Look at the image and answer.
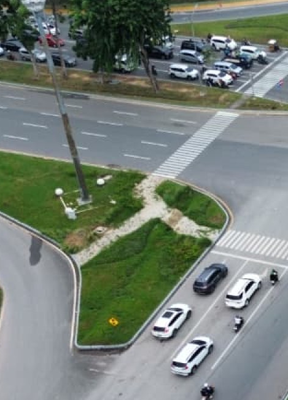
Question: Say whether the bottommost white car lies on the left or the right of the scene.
right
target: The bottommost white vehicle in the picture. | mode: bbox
[167,337,214,382]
